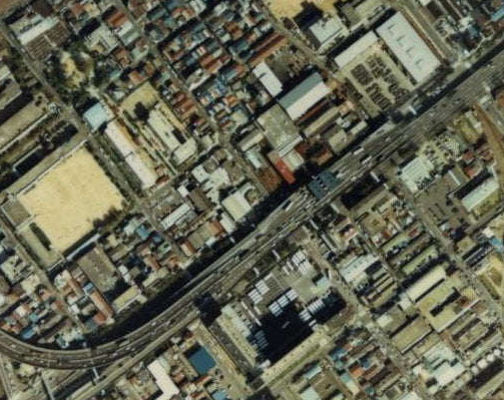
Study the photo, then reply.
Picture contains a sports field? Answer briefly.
Yes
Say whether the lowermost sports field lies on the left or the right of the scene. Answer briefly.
left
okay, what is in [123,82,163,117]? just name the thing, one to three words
sports field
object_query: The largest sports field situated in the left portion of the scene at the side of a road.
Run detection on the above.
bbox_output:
[20,148,126,255]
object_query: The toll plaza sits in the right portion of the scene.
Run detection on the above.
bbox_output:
[309,169,337,198]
